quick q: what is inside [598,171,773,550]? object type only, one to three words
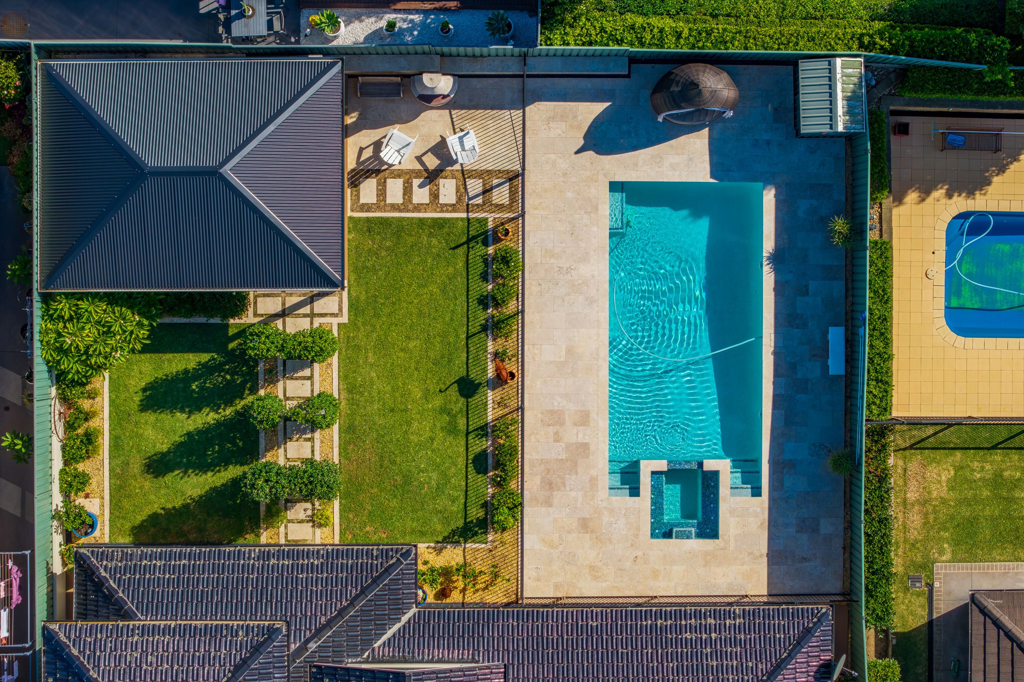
swimming pool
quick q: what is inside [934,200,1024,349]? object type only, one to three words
swimming pool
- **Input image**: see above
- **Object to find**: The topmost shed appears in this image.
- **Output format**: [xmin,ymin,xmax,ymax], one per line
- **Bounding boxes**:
[794,56,865,137]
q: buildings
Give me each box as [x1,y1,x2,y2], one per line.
[39,544,835,682]
[38,59,350,291]
[963,587,1024,682]
[794,56,865,137]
